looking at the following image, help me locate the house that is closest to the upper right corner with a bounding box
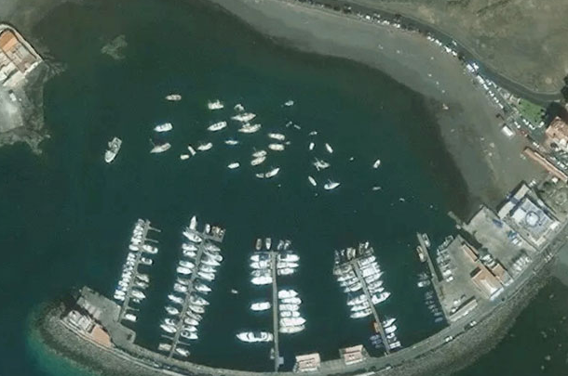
[546,119,568,149]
